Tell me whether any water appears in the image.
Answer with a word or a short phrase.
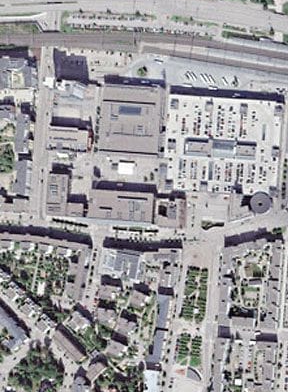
No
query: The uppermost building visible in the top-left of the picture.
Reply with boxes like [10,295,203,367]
[0,60,39,89]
